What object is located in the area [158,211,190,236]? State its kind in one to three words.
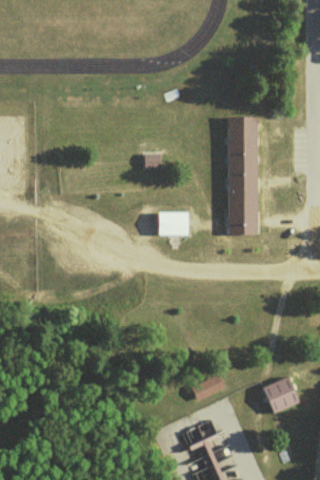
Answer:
building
